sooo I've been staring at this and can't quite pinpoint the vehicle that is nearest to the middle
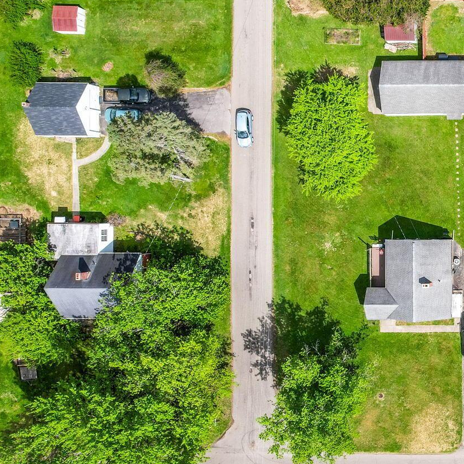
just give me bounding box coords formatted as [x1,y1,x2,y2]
[233,108,255,147]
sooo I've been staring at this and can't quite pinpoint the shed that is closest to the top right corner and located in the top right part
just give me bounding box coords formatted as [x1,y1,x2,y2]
[383,19,419,45]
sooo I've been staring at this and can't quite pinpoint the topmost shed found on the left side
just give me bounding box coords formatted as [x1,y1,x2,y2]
[48,6,89,34]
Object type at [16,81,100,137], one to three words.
house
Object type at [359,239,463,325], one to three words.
house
